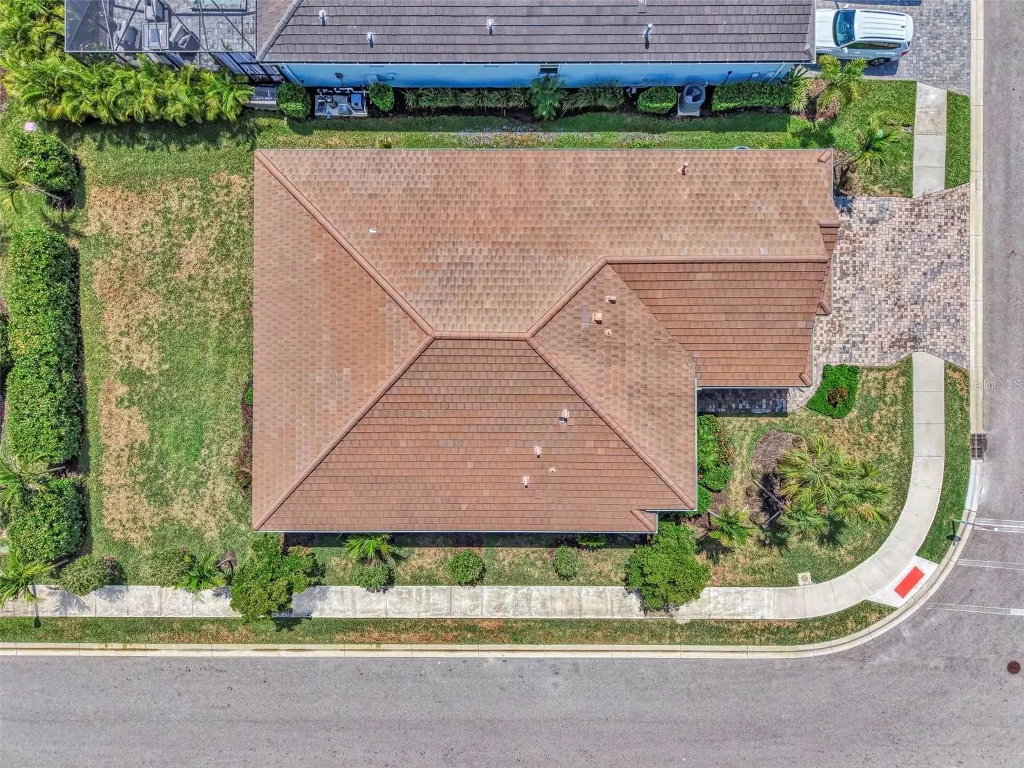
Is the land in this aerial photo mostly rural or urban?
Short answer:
urban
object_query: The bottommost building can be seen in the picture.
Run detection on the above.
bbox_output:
[251,146,844,534]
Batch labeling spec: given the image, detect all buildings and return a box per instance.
[254,0,820,88]
[251,146,844,534]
